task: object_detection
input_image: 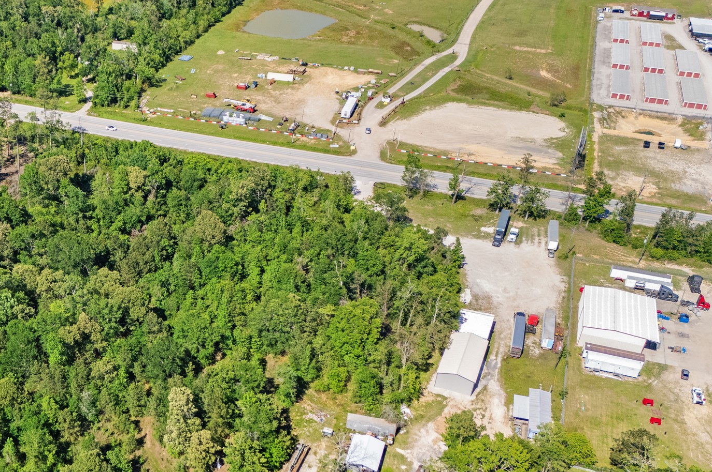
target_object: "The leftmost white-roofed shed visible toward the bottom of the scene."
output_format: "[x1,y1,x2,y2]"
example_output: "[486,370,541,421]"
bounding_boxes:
[346,434,389,472]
